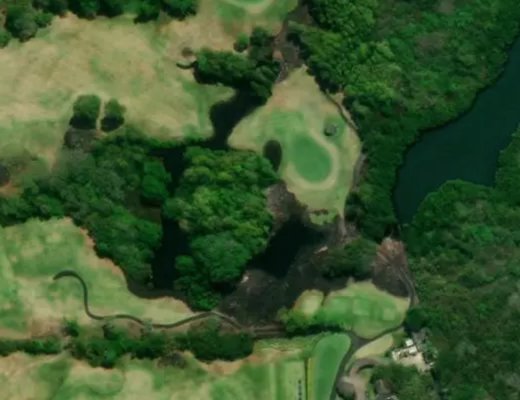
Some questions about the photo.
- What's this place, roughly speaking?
golf course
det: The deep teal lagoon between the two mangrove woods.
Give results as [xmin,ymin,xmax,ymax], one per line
[392,25,520,224]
